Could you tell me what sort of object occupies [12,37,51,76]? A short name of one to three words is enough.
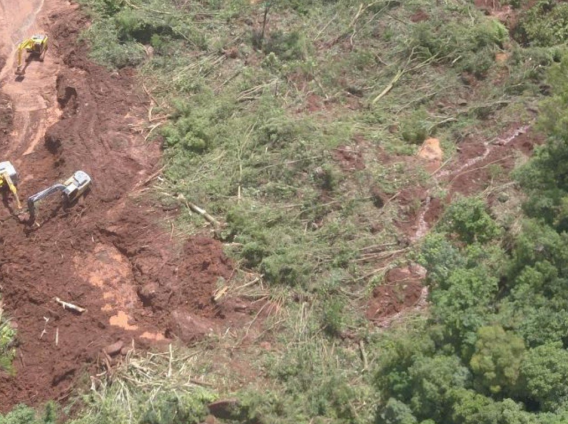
work vehicle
